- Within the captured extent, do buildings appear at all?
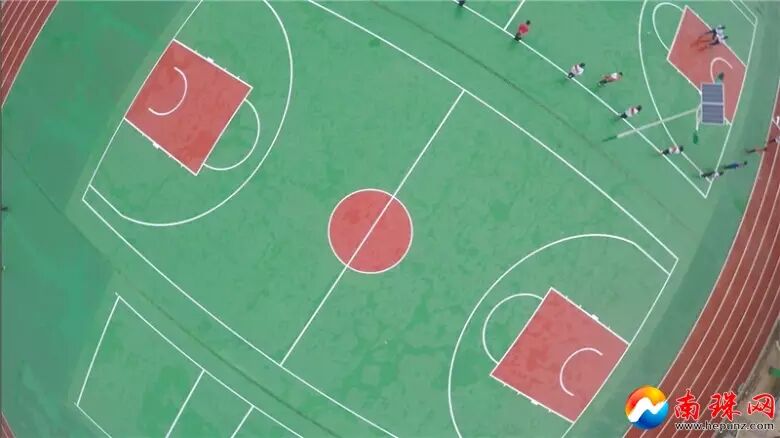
No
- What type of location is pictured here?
sports ground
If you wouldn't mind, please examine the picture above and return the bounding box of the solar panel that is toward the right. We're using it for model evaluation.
[702,83,724,124]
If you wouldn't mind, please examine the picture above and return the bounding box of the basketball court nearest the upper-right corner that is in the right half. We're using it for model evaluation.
[378,0,768,241]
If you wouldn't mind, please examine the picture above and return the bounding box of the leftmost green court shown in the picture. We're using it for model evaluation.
[62,265,346,438]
